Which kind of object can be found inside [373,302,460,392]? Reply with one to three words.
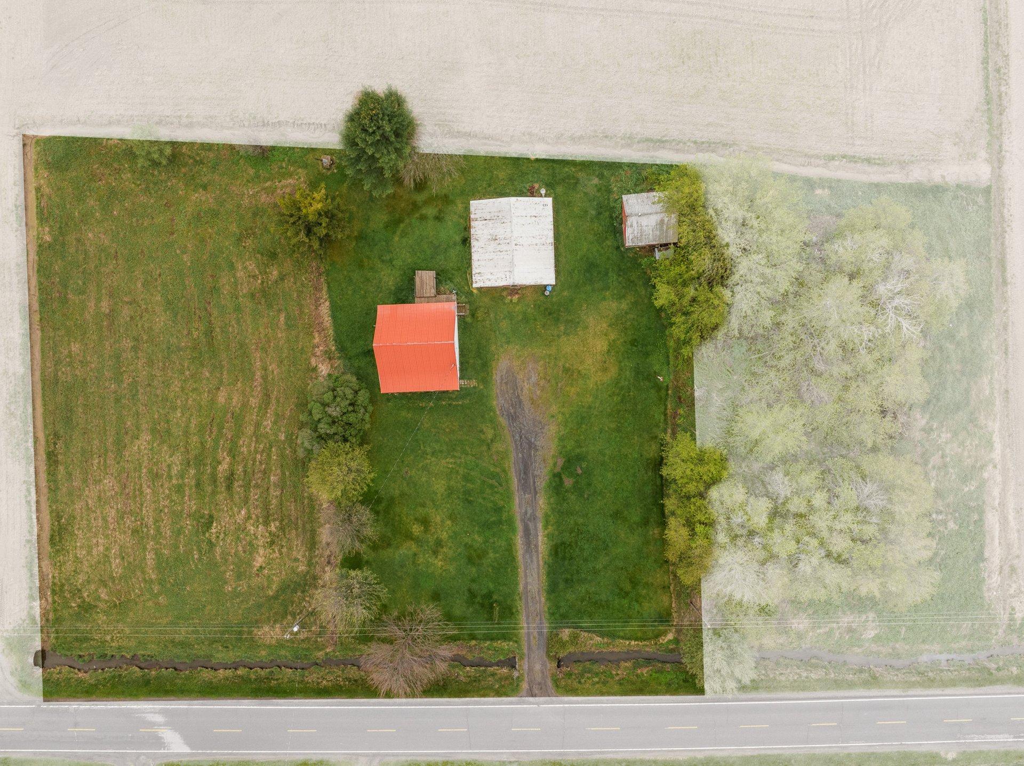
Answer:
house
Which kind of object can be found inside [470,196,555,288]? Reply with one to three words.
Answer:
barn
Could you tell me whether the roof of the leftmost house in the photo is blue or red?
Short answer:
red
